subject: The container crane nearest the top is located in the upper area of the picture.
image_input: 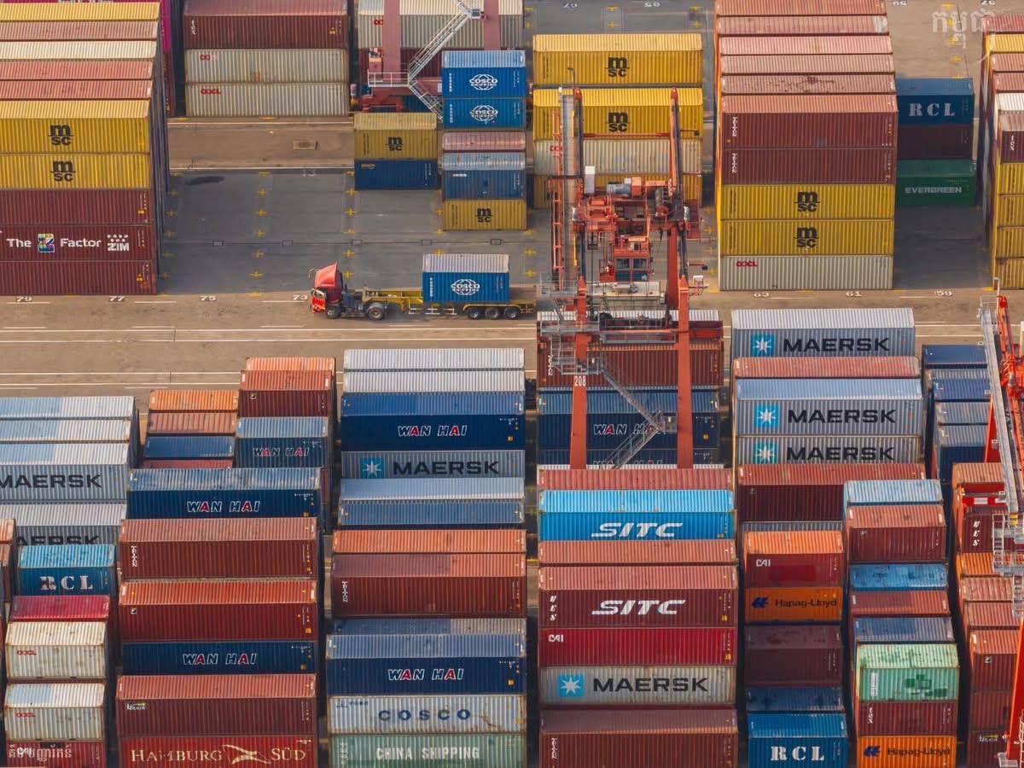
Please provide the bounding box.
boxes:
[360,0,527,130]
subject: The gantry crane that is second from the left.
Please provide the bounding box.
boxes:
[533,65,728,469]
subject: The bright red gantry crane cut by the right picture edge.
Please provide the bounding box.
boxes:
[958,262,1024,768]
